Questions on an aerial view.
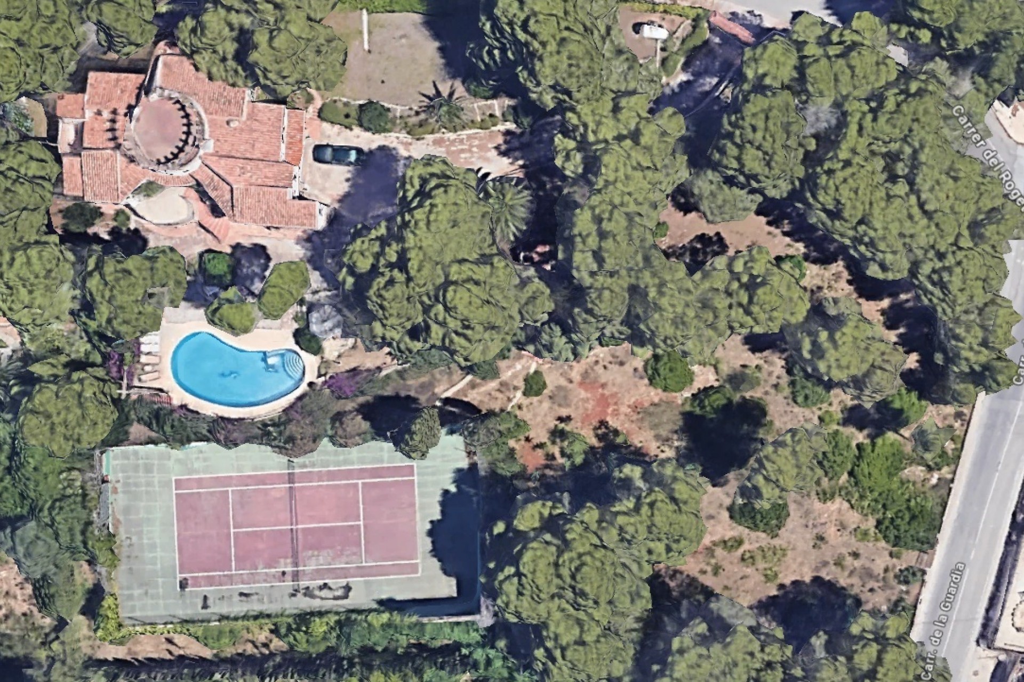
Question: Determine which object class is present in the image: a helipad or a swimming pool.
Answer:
swimming pool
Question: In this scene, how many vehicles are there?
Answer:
one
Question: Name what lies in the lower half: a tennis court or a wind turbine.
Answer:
tennis court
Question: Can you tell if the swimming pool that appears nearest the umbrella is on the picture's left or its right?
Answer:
left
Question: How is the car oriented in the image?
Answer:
from left to right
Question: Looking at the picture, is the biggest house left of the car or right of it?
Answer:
on the left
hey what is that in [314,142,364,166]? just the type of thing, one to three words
car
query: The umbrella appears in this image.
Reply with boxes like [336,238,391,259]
[309,303,342,337]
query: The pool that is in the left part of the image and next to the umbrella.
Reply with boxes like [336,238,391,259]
[133,322,318,418]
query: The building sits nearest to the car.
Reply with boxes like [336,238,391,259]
[57,42,326,232]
